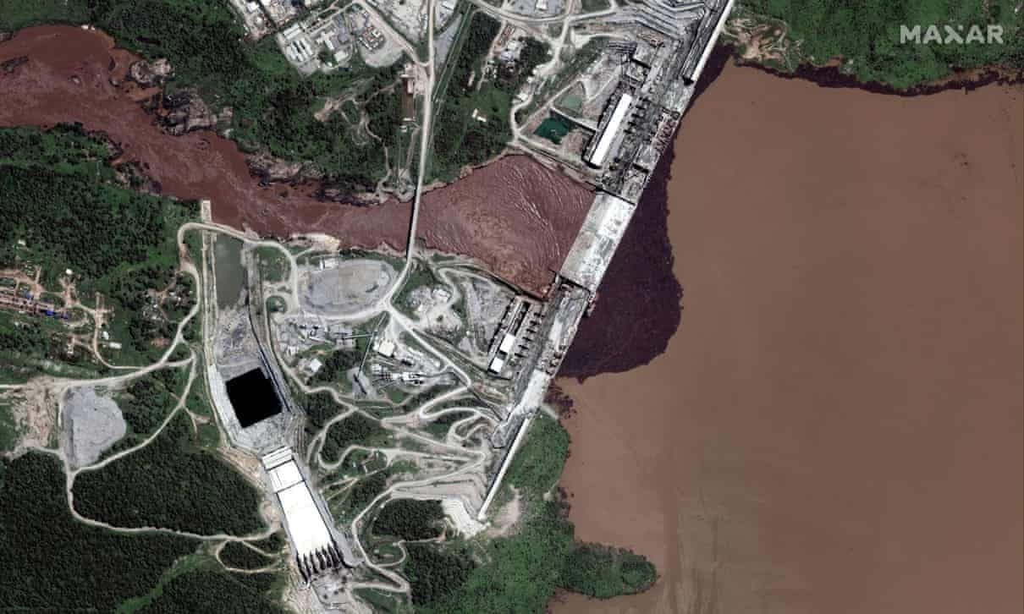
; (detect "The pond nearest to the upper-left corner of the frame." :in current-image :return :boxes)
[216,231,248,308]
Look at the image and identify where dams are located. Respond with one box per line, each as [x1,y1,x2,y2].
[476,0,734,520]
